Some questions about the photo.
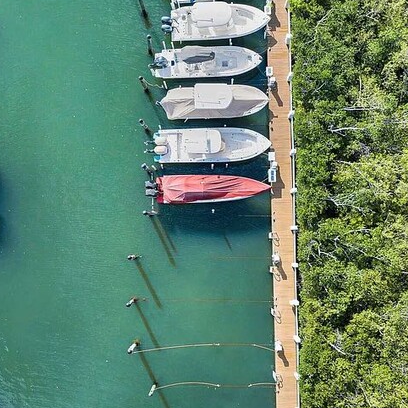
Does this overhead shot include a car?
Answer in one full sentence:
No, this view has no car in it.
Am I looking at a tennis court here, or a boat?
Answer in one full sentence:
The one in the frame is a boat.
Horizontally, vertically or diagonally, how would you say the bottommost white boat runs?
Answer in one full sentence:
I'd say the bottommost white boat is aligned horizontally in the picture.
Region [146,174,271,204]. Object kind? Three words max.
boat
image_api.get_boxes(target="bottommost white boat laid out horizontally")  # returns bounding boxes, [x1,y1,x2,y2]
[144,123,272,164]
